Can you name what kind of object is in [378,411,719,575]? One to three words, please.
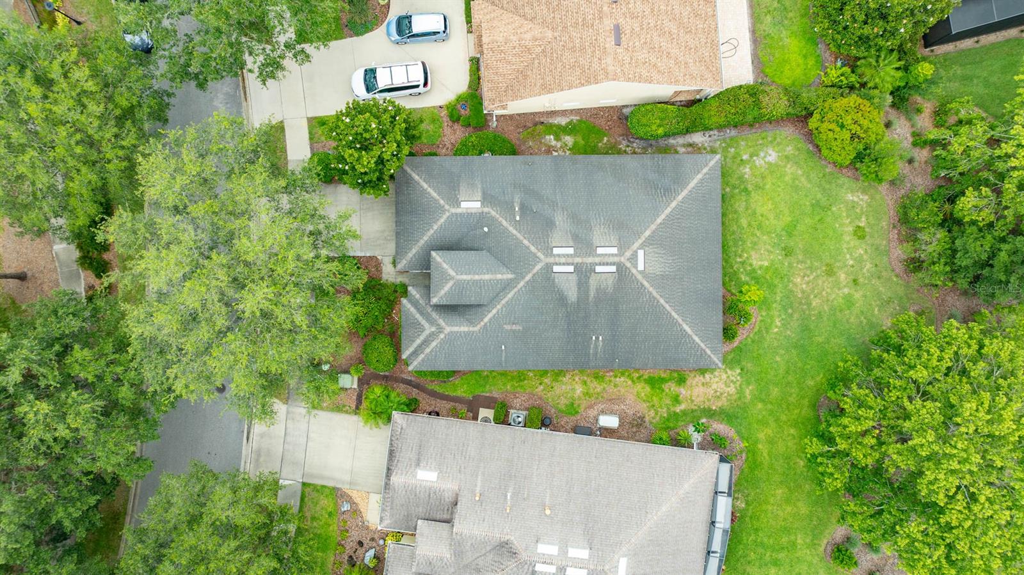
house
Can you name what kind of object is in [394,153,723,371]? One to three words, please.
house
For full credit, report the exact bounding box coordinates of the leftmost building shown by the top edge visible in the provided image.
[463,0,725,133]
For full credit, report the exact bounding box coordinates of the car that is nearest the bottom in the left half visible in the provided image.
[351,61,432,98]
